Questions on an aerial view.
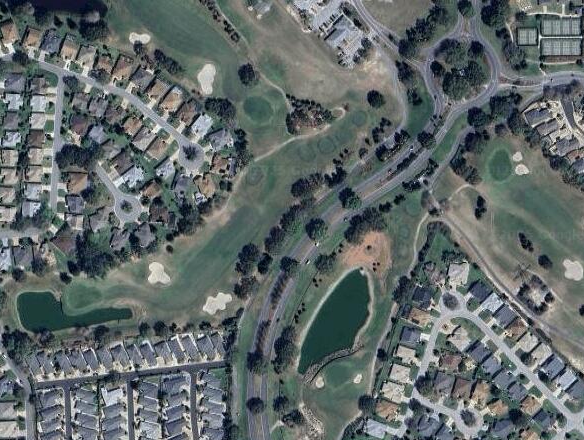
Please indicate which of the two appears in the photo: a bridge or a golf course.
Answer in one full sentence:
Looking from above, you can make out a golf course.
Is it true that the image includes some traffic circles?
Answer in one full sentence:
Yes, a traffic circle is visible in the scene.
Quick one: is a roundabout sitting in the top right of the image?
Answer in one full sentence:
Yes, a roundabout appears in the top right of the image.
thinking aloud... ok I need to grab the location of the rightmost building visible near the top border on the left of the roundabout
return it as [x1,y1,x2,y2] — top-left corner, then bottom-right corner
[324,15,355,47]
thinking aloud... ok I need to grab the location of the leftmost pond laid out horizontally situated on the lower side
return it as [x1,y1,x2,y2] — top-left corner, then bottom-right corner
[17,291,132,332]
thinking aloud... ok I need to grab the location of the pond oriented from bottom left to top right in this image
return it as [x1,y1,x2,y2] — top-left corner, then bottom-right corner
[298,268,369,374]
